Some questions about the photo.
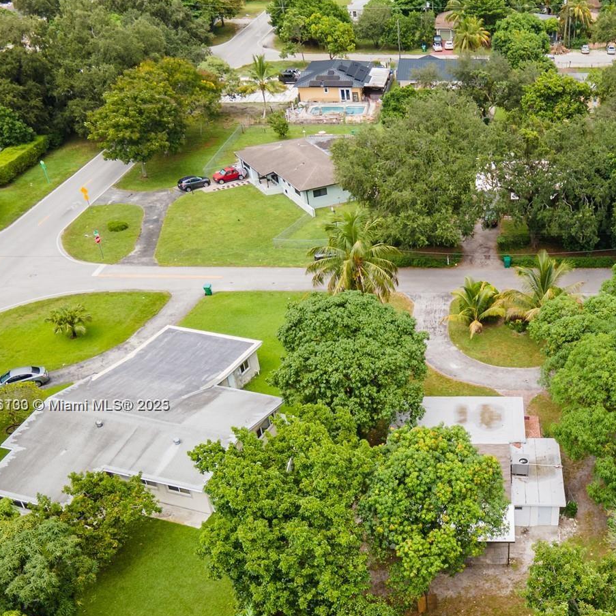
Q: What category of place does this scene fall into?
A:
residential area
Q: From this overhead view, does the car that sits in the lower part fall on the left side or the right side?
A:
left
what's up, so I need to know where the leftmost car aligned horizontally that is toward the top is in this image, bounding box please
[175,172,212,189]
